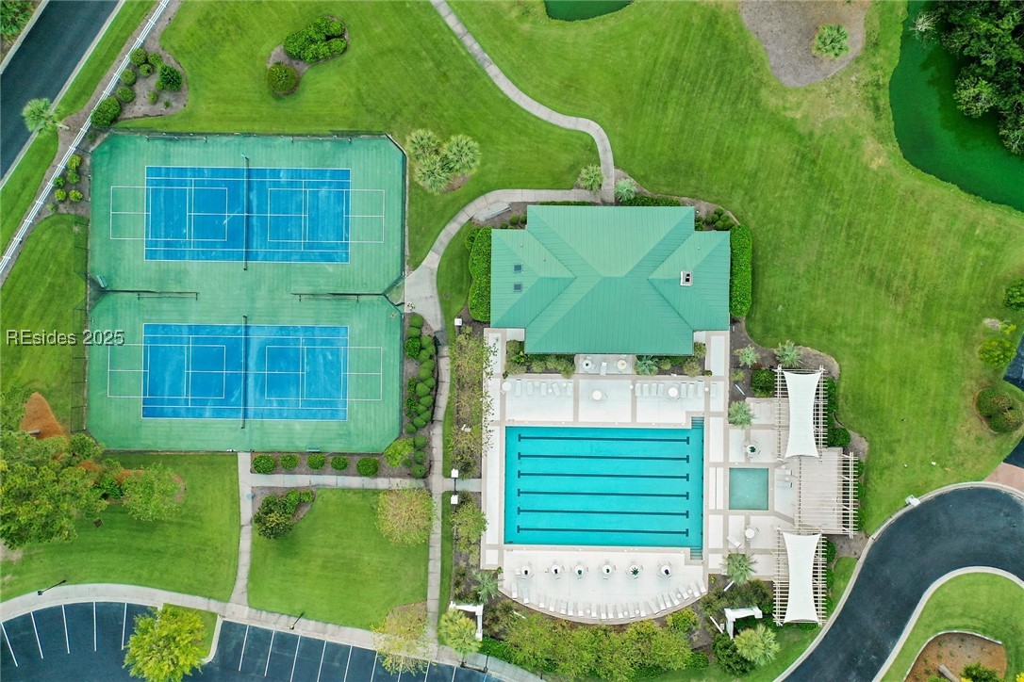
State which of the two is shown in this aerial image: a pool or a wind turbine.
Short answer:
pool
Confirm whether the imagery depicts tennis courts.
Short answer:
Yes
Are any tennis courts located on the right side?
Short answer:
No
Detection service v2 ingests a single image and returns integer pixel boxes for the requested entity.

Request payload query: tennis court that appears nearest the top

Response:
[88,135,404,293]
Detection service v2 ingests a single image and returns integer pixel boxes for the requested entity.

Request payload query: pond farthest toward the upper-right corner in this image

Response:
[889,0,1024,212]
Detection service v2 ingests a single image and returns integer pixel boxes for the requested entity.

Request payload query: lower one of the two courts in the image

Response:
[87,291,399,453]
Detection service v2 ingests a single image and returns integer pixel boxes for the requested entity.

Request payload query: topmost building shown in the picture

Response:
[490,204,731,356]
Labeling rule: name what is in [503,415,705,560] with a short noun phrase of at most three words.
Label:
swimming pool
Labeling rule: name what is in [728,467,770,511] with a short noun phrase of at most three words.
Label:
swimming pool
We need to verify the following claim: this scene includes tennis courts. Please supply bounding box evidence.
[88,135,404,293]
[87,291,399,453]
